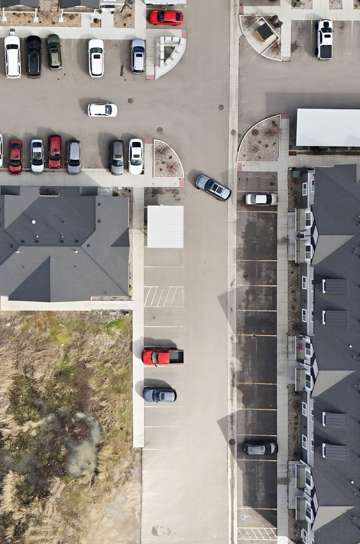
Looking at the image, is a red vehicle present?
Yes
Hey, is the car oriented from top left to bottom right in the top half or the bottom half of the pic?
top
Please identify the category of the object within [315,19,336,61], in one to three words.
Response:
truck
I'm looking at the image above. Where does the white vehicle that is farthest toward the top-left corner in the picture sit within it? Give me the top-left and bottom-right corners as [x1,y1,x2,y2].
[4,36,22,79]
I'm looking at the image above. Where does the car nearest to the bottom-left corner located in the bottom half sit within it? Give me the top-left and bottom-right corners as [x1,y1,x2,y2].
[143,386,177,404]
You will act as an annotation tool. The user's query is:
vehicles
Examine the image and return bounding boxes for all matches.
[141,348,185,367]
[86,102,118,118]
[28,138,45,174]
[315,19,336,61]
[143,386,177,404]
[65,139,82,175]
[46,135,63,170]
[147,8,184,27]
[130,38,147,74]
[194,173,232,203]
[24,35,43,78]
[109,139,126,175]
[4,36,22,79]
[7,139,23,175]
[142,0,178,6]
[87,39,106,78]
[128,138,145,176]
[242,439,278,458]
[243,190,278,207]
[45,34,63,70]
